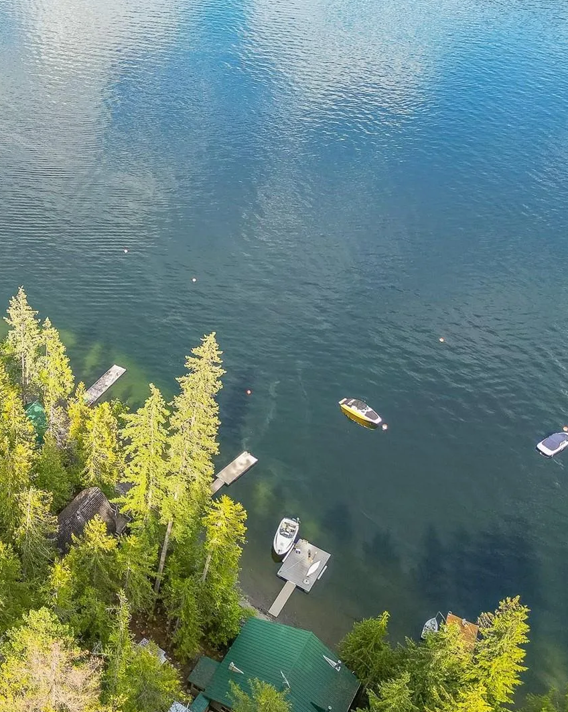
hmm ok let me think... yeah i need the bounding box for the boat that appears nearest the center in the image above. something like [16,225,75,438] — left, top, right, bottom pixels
[333,397,383,423]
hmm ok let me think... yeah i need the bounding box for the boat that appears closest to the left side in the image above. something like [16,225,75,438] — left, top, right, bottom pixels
[276,513,304,558]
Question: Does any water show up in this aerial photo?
Yes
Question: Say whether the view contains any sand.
No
